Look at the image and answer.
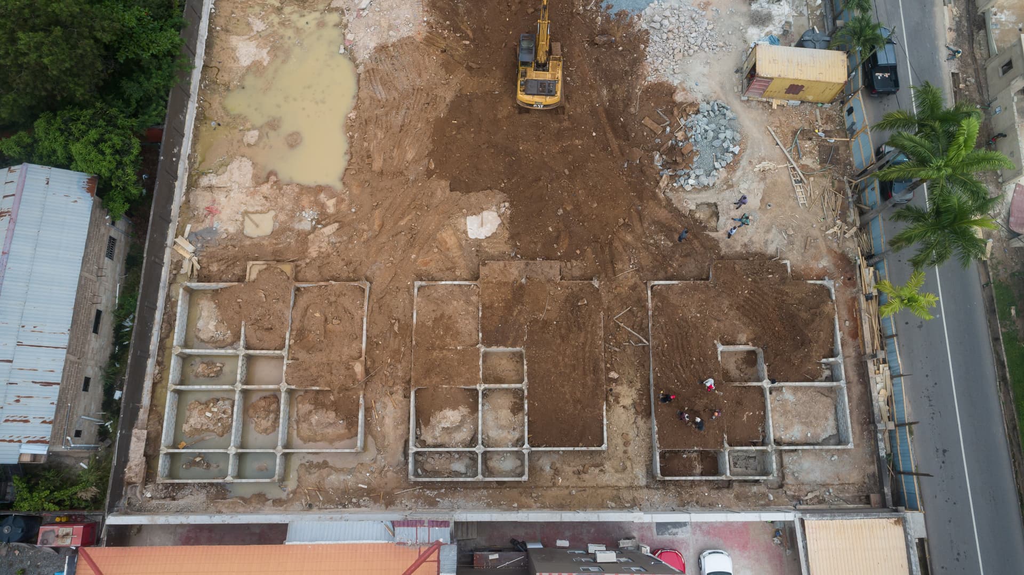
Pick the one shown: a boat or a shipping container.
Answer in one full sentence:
Looking from above, you can make out a shipping container.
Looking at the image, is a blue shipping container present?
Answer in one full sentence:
No, the picture doesn't show any blue shipping container.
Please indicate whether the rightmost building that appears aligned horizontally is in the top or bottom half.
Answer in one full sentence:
The rightmost building that appears aligned horizontally is in the bottom half of the image.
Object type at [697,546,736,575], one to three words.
car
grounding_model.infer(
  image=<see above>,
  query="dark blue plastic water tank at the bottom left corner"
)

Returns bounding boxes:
[0,509,43,552]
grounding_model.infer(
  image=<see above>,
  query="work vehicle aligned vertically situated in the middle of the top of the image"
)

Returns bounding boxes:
[515,0,563,115]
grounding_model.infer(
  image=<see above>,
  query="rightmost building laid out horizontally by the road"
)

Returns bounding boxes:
[789,511,928,575]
